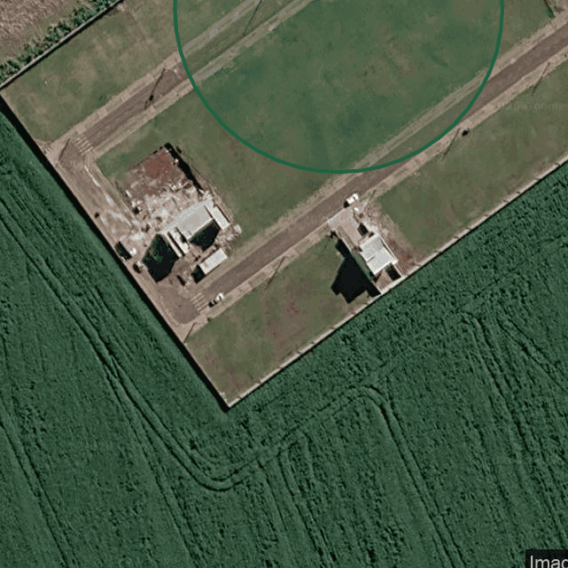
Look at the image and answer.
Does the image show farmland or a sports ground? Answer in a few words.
farmland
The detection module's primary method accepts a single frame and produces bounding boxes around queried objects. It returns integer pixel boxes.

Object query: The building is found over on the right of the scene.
[329,207,397,288]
